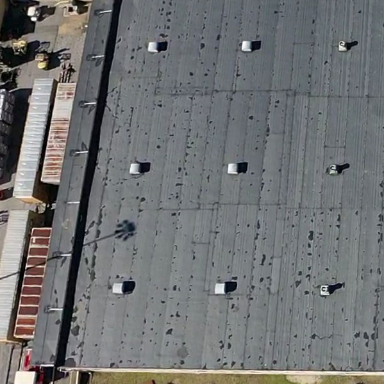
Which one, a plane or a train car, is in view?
train car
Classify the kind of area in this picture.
industrial area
